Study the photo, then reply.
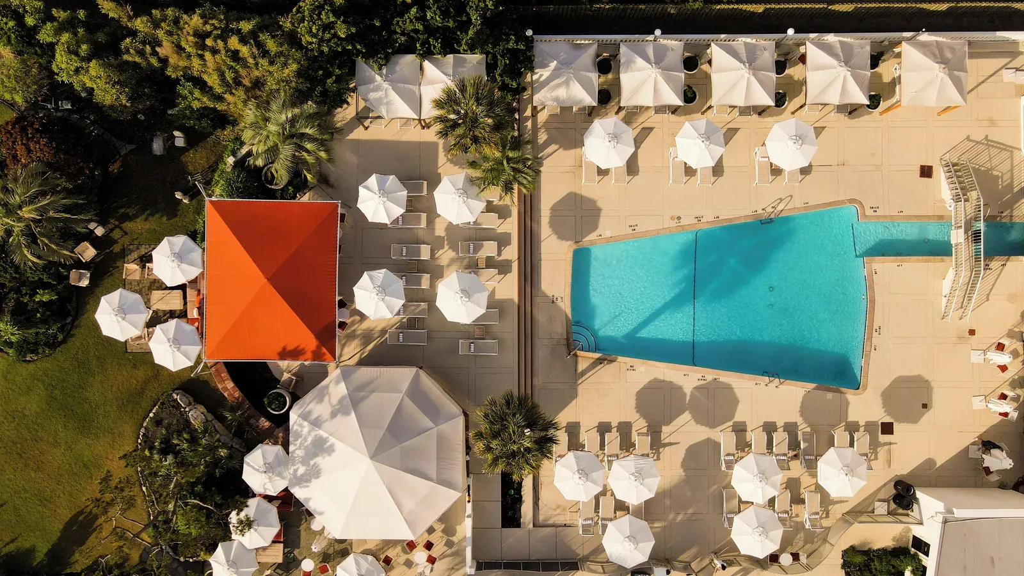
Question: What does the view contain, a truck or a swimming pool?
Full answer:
This aerial view contains a swimming pool.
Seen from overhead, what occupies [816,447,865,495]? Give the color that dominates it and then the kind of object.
white umbrella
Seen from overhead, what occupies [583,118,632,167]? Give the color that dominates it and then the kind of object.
white umbrella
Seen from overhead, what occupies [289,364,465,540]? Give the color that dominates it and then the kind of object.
white tent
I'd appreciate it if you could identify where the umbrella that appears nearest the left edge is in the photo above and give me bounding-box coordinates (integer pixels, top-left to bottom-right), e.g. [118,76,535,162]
[99,287,154,338]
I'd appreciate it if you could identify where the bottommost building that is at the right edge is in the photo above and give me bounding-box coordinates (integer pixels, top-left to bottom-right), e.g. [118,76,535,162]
[900,489,1024,576]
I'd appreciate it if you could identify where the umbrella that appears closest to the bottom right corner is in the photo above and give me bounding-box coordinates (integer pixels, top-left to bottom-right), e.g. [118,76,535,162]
[972,443,1016,469]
